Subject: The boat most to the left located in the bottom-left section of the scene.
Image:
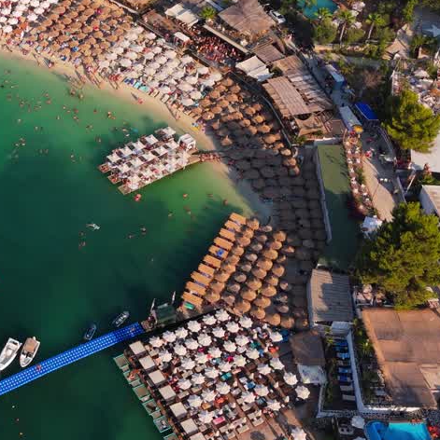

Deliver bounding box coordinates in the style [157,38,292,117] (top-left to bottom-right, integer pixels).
[0,336,22,368]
